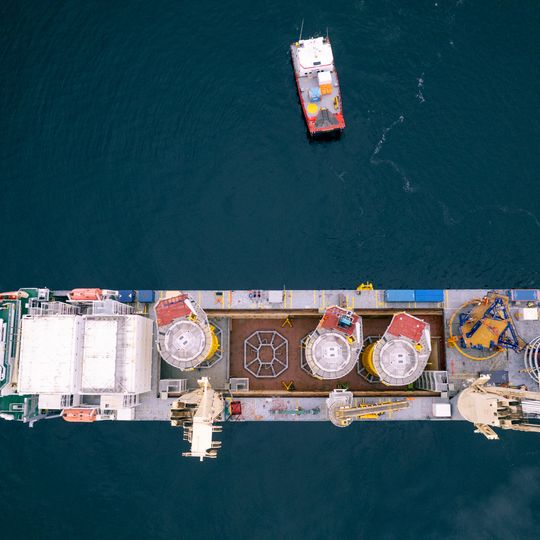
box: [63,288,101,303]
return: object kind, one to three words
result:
boat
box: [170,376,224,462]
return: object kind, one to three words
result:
crane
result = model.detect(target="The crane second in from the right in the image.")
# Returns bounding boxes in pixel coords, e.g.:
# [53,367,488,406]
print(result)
[327,389,411,427]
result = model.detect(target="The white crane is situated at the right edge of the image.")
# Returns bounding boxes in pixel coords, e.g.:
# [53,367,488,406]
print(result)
[456,374,540,440]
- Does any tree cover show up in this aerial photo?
No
